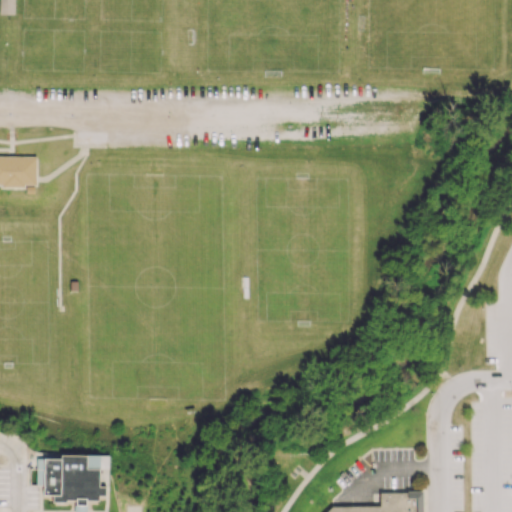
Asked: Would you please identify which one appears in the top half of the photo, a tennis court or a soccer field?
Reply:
soccer field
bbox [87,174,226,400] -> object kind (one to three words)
soccer field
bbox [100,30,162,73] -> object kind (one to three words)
soccer field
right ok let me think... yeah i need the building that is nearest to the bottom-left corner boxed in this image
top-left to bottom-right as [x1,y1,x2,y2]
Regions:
[37,456,111,512]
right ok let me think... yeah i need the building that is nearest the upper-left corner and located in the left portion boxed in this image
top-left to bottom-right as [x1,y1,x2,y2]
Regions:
[0,155,36,188]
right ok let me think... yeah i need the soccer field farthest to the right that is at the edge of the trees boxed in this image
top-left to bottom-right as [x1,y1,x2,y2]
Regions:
[368,0,495,69]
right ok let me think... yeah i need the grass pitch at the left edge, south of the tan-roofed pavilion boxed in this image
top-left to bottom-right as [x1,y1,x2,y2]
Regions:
[0,240,50,364]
